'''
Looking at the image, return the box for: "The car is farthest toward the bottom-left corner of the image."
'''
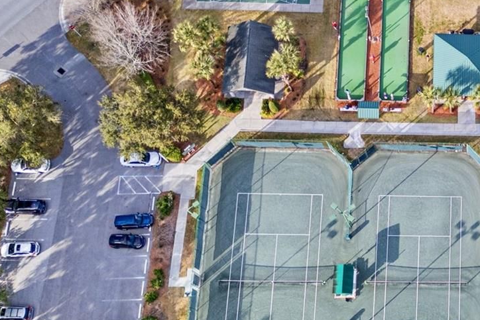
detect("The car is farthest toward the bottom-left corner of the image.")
[0,304,34,320]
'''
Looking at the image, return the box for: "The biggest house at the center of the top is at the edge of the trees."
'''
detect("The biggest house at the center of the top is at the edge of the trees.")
[225,21,276,100]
